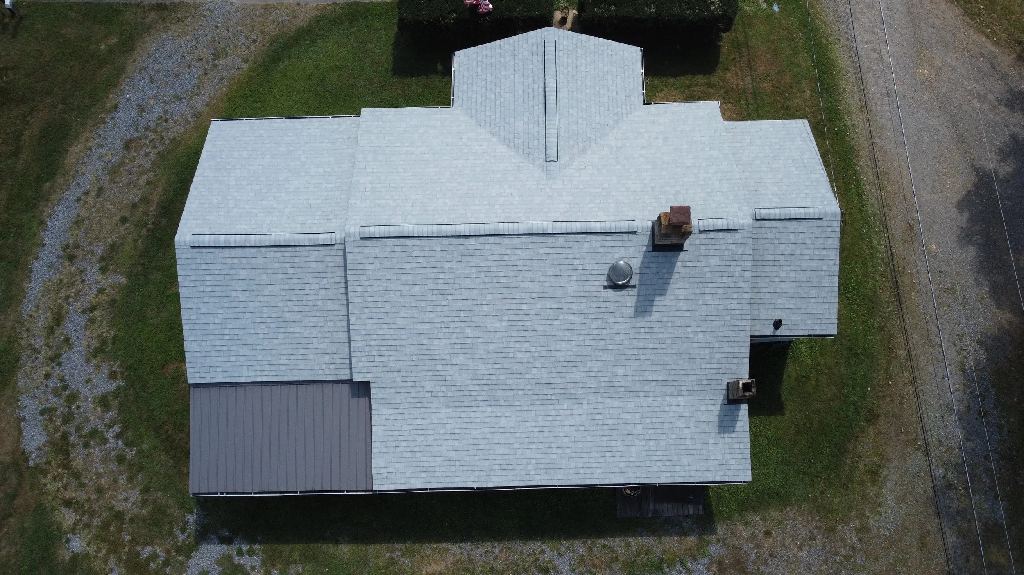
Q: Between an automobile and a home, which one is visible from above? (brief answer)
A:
home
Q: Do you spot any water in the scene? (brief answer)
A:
No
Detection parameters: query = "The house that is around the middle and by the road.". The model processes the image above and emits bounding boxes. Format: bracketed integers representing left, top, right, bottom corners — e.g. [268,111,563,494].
[175,27,851,499]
